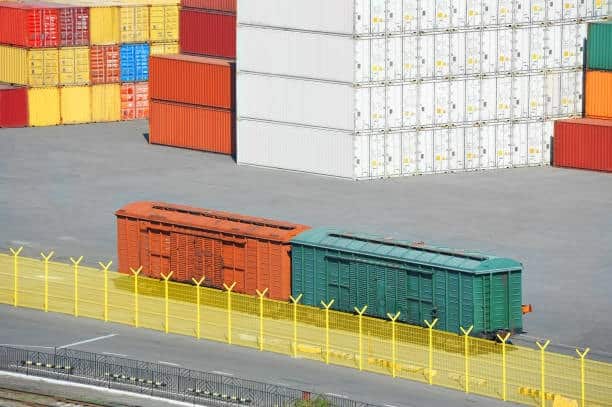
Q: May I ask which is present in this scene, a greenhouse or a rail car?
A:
rail car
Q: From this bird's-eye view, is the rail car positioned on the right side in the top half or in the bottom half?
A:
bottom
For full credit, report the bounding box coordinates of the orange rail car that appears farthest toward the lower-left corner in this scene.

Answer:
[114,202,316,321]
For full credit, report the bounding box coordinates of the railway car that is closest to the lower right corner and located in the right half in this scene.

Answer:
[290,230,528,357]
